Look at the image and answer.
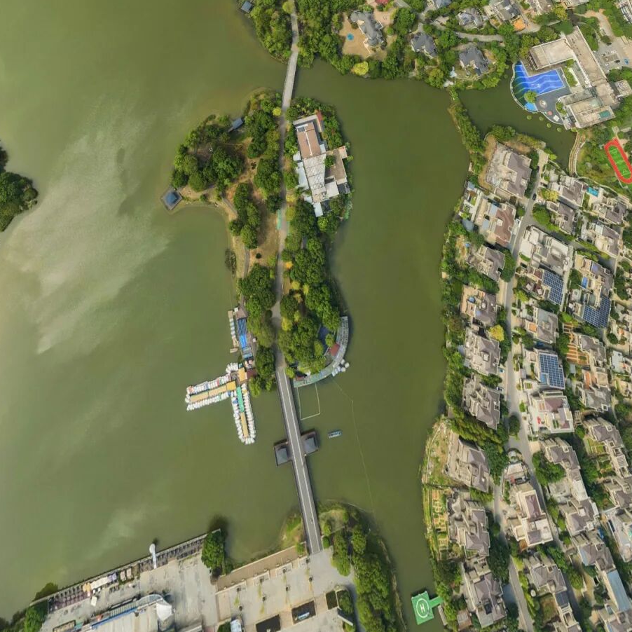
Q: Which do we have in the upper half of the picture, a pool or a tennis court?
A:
pool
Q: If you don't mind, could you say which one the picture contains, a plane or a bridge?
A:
bridge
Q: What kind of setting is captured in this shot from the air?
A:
residential area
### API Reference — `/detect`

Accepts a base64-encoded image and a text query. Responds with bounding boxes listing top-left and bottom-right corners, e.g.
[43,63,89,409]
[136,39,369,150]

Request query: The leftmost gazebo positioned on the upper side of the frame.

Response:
[161,187,183,210]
